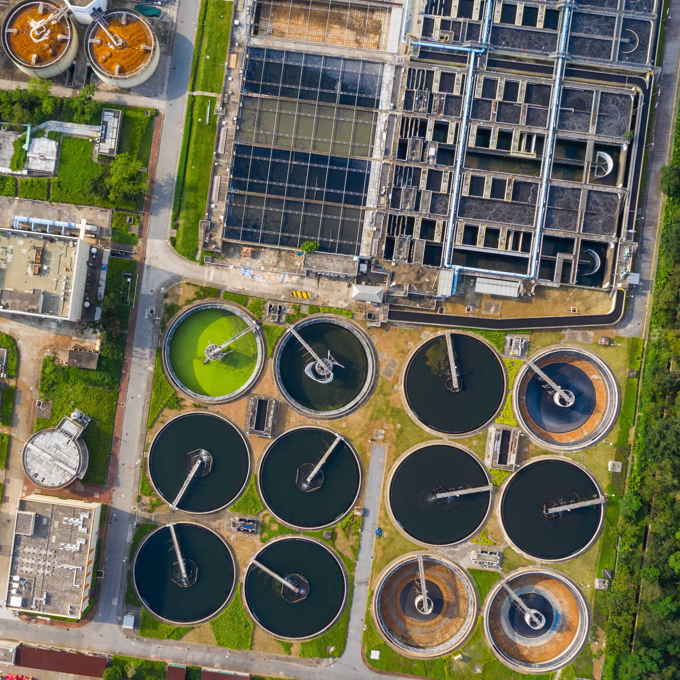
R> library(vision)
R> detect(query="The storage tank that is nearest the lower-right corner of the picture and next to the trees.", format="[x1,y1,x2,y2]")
[481,562,593,675]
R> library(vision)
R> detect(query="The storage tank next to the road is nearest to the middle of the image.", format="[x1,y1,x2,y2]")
[270,311,381,423]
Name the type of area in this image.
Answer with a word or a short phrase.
industrial area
